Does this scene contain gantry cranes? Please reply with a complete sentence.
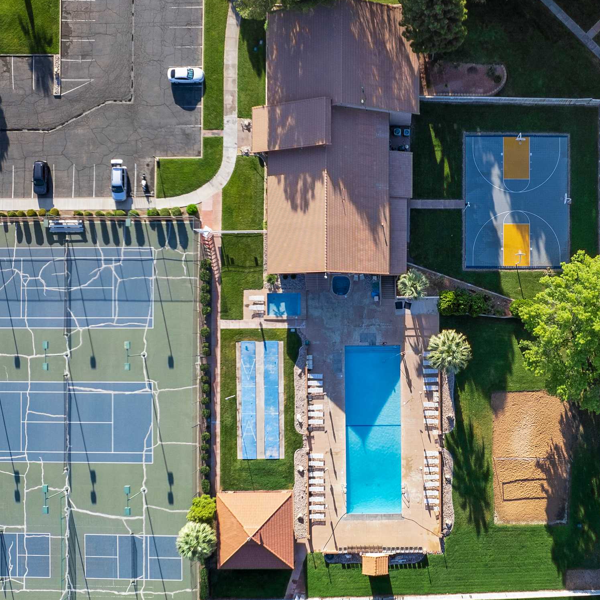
No, no gantry crane is visible in the view.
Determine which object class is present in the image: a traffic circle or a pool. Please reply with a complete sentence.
This aerial view contains a pool.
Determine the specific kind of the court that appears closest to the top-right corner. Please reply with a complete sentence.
The court that appears closest to the top-right corner in the image is a basketball court.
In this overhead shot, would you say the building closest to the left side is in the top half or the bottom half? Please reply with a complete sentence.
It is in the bottom half that the building closest to the left side appears.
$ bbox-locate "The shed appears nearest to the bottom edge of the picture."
[362,551,399,576]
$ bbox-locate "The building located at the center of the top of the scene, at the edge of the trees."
[252,0,419,277]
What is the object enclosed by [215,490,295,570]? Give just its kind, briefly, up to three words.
building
